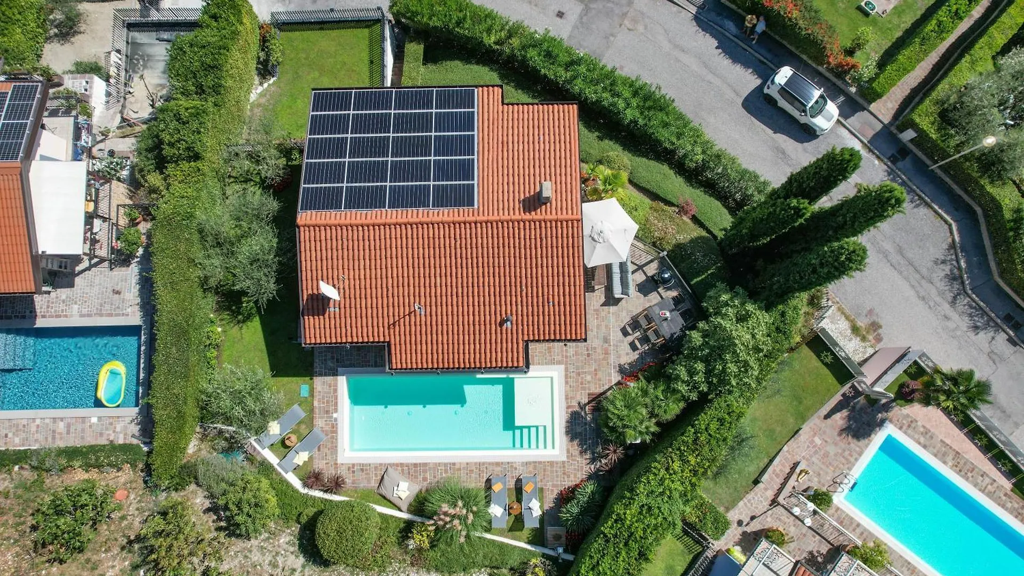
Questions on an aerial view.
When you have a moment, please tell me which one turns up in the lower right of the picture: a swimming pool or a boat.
swimming pool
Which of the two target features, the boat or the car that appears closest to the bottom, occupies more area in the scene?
the car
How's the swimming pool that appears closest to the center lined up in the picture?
horizontally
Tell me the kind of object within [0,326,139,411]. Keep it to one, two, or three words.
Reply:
swimming pool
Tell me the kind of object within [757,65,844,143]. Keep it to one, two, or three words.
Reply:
car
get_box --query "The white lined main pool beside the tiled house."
[349,375,554,452]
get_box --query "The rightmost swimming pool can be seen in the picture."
[844,434,1024,576]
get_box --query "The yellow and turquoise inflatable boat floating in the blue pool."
[96,360,129,407]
